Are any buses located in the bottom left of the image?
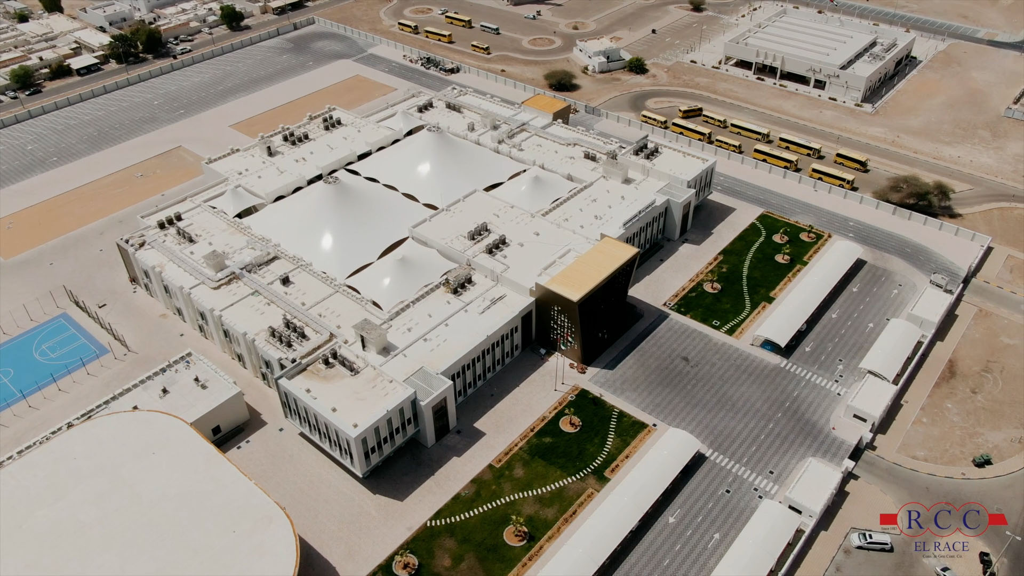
No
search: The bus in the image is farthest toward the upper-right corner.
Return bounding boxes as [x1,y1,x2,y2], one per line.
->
[833,148,873,171]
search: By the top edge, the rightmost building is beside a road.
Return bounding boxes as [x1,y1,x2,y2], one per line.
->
[722,6,919,102]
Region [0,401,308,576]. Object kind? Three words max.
building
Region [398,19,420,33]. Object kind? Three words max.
vehicle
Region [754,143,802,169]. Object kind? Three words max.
bus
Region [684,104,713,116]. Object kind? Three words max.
vehicle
